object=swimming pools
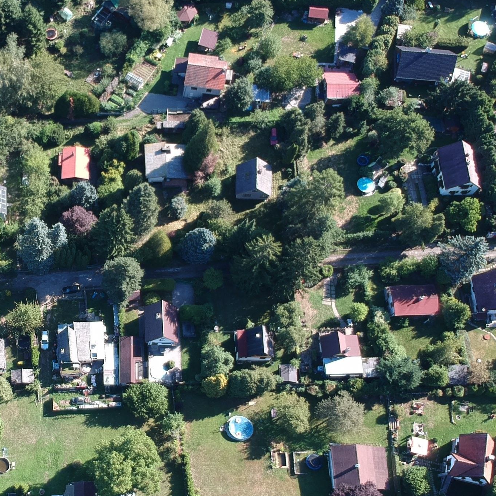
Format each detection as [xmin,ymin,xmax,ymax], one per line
[227,416,253,442]
[354,177,375,194]
[150,360,169,379]
[0,454,14,478]
[470,22,490,39]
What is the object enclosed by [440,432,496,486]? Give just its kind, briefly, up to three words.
house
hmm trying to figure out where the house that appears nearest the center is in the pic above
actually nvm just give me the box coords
[234,158,272,206]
